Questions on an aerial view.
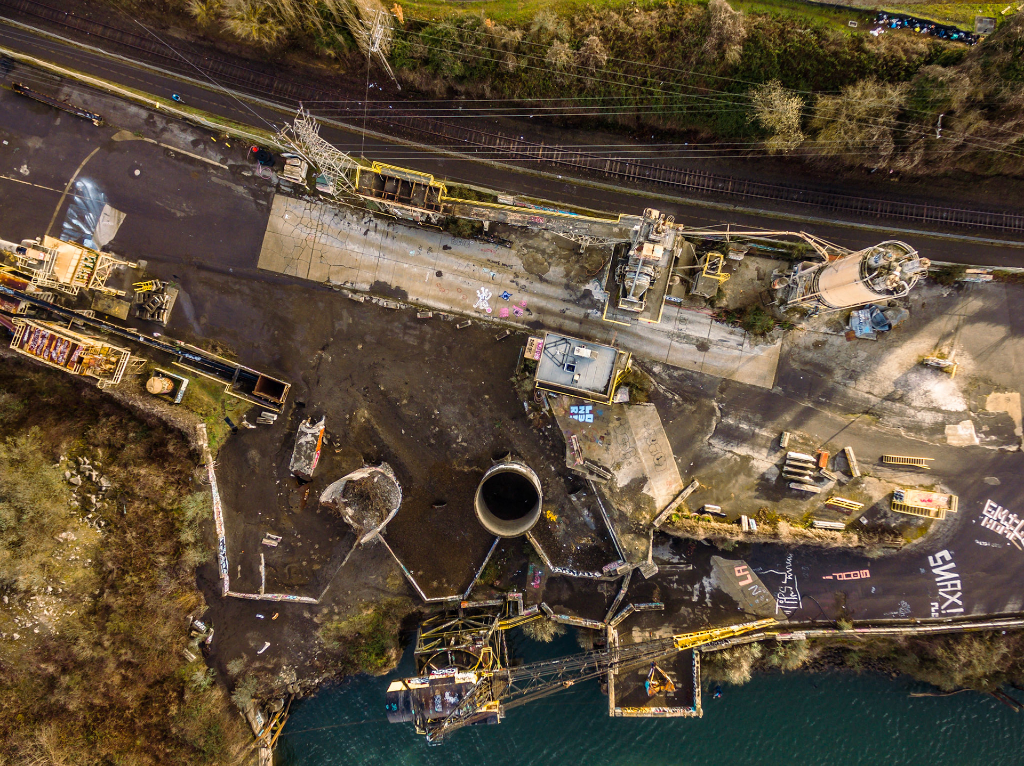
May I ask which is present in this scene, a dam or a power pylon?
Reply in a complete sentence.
I can see a power pylon in this picture.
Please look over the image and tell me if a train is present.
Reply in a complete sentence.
No, the photo shows no train.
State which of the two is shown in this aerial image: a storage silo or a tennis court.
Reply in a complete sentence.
I can see a storage silo in this picture.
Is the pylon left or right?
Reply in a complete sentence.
The pylon is on the left side of the image.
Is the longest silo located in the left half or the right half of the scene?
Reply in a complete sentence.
It is on the right.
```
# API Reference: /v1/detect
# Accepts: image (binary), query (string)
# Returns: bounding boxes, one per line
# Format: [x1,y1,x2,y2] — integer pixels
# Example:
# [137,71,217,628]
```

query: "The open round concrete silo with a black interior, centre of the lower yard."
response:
[473,457,544,535]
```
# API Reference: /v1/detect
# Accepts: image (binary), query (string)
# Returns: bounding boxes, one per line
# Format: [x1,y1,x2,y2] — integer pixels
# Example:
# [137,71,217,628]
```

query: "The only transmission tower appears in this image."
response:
[284,101,374,199]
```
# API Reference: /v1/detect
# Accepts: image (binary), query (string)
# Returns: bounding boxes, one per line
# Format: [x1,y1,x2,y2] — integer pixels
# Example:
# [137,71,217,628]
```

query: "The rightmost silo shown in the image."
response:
[780,229,944,321]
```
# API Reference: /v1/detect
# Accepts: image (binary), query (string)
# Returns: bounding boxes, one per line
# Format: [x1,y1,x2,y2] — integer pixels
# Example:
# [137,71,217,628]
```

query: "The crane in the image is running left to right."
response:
[385,600,780,747]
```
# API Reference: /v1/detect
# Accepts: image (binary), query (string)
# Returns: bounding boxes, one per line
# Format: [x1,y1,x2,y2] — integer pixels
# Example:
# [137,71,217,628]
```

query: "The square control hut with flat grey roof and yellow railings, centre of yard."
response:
[535,332,634,406]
